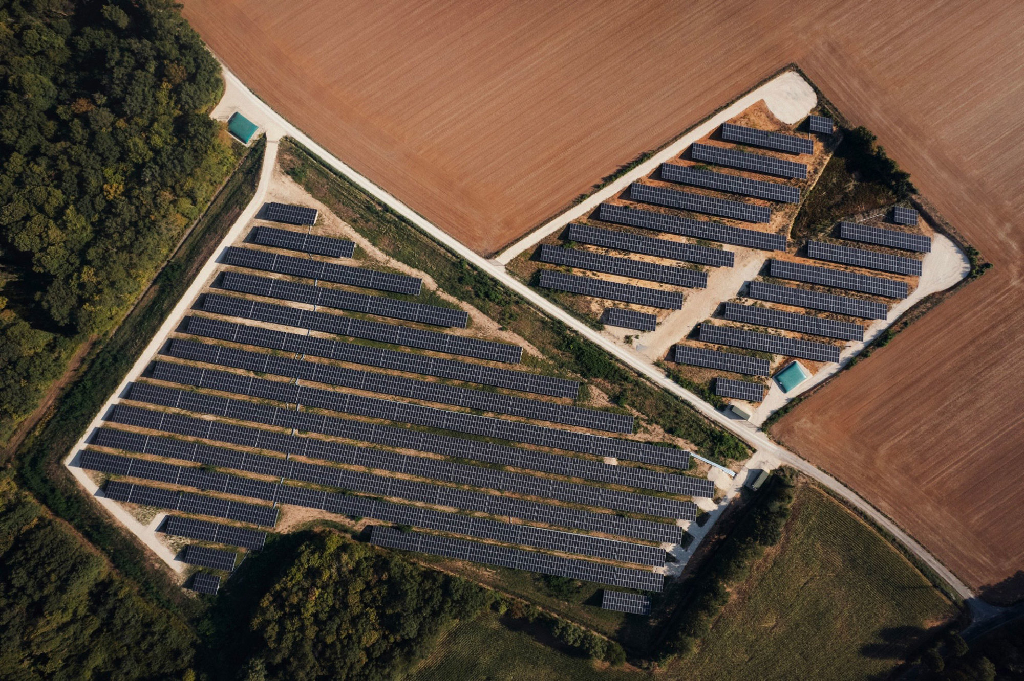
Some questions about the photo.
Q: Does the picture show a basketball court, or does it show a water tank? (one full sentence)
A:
The image shows a water tank.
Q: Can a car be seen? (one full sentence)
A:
No, there's no car here.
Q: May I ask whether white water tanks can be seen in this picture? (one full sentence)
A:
No, there is no white water tank in the image.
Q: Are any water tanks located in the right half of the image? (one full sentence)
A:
Yes, you'll find a water tank in the right half of the image.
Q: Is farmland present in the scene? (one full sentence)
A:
Yes, there is farmland in the image.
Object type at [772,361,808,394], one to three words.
water tank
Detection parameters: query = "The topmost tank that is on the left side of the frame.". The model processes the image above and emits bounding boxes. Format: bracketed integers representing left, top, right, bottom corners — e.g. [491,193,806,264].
[228,111,259,144]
